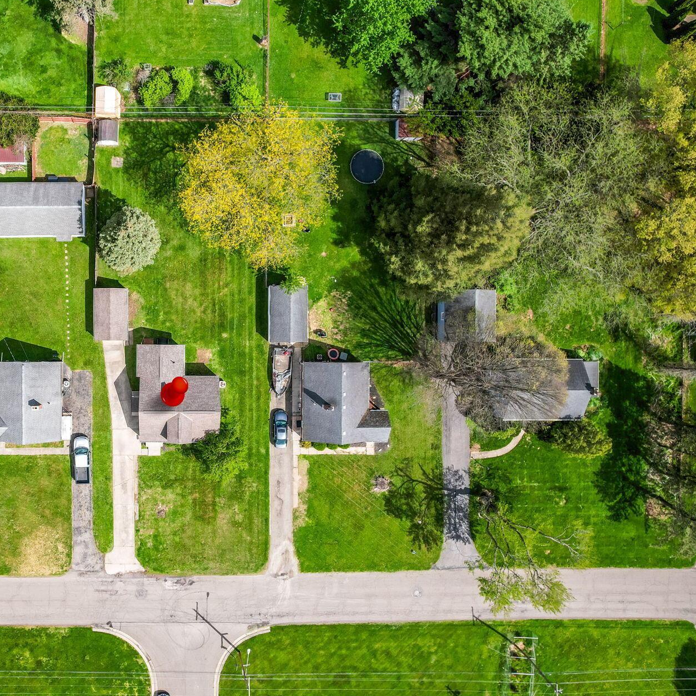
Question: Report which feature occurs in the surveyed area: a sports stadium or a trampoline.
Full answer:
The image shows a trampoline.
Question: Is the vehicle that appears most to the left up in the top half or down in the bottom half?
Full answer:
You can find the vehicle that appears most to the left in the bottom half.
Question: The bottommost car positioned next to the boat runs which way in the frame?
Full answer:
From this overhead view, the bottommost car positioned next to the boat appears to run from top to bottom.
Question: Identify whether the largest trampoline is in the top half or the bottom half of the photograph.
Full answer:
You can find the largest trampoline in the top half.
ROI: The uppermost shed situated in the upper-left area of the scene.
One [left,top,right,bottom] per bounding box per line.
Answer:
[95,83,120,123]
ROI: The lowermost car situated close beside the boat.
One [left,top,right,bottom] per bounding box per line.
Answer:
[271,408,291,451]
